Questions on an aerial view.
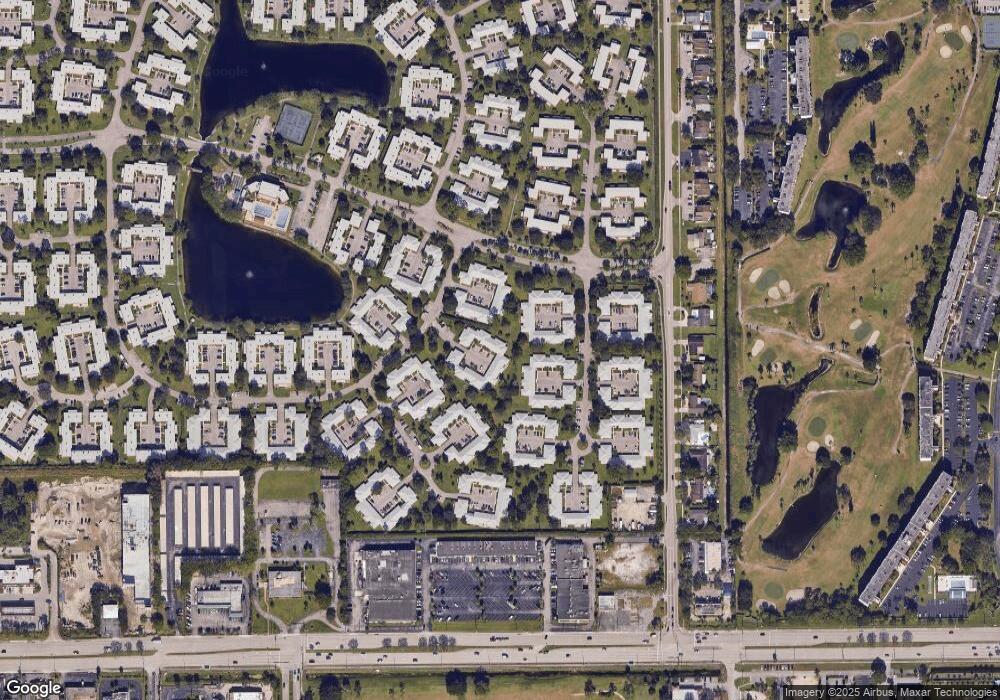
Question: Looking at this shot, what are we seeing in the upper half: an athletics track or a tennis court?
tennis court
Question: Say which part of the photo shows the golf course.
right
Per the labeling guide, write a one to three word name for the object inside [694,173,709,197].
house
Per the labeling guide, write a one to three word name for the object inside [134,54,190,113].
building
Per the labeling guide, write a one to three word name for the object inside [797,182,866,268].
pond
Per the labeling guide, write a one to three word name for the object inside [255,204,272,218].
swimming pool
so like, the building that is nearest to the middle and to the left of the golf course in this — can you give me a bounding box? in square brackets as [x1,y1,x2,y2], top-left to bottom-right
[443,326,509,389]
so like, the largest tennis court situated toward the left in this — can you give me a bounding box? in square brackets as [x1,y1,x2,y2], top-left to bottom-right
[272,103,312,144]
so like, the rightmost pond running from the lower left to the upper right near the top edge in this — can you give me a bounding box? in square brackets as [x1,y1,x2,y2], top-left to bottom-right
[819,31,903,154]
